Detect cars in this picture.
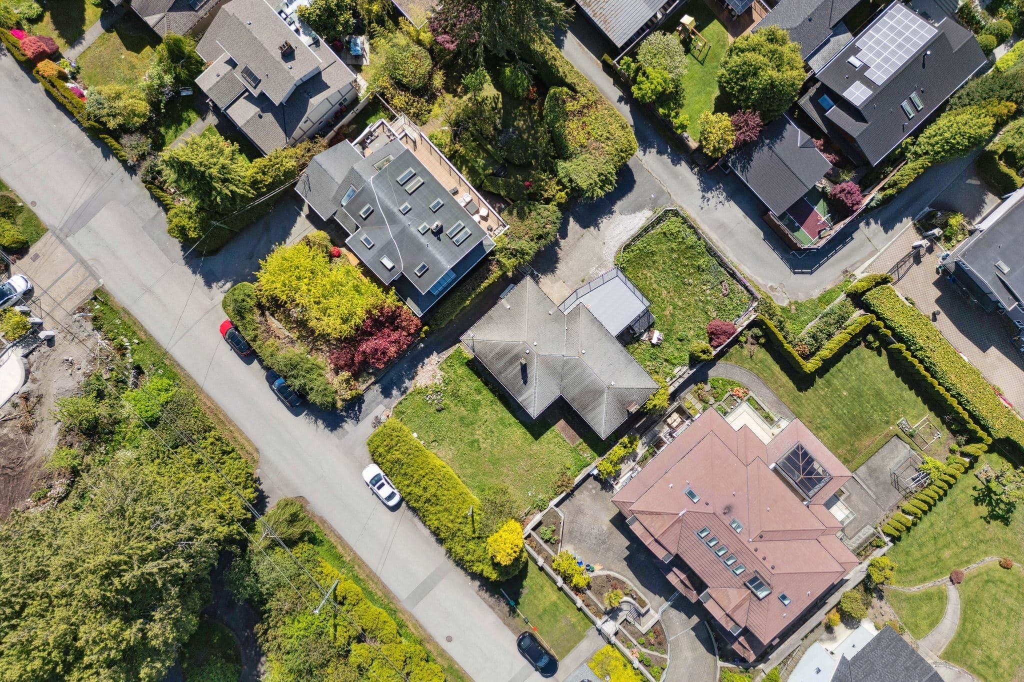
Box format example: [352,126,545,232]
[364,462,398,512]
[0,277,34,313]
[263,367,303,414]
[221,317,254,360]
[518,629,556,681]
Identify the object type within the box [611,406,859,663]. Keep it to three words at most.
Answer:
house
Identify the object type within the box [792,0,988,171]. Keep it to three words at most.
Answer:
house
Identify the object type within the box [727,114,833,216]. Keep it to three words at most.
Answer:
building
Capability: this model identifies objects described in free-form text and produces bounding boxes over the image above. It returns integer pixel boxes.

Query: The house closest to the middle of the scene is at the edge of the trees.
[460,267,659,440]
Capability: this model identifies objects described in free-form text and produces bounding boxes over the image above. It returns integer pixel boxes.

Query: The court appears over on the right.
[756,185,836,245]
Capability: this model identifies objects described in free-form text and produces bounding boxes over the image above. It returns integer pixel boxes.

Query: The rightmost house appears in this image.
[933,181,1024,333]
